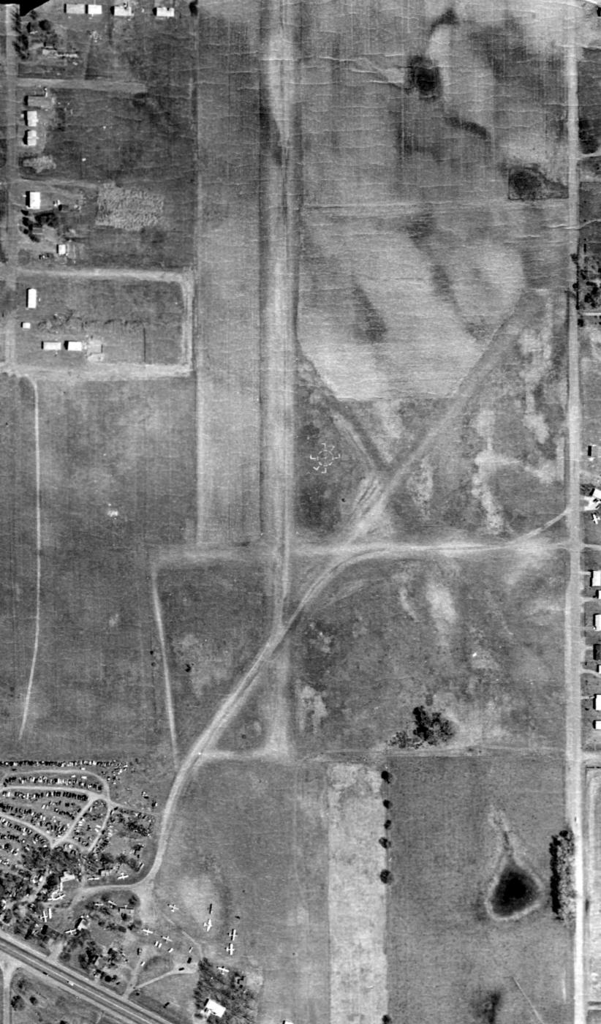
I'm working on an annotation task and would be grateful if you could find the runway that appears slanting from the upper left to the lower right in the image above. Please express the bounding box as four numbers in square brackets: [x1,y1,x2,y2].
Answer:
[297,353,388,478]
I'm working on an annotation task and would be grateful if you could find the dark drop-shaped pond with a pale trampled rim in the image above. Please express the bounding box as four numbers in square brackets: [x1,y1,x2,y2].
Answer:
[490,853,540,916]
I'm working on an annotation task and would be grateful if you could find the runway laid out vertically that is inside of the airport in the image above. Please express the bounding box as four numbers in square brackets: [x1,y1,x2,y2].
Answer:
[261,0,298,628]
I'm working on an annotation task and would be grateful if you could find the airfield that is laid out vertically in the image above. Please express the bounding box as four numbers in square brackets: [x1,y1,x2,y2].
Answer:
[138,0,570,925]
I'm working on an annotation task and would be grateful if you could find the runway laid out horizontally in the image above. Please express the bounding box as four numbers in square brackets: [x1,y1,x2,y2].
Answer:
[146,538,570,561]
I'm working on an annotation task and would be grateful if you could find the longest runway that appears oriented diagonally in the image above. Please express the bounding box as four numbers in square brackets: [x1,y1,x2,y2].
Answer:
[339,286,536,550]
